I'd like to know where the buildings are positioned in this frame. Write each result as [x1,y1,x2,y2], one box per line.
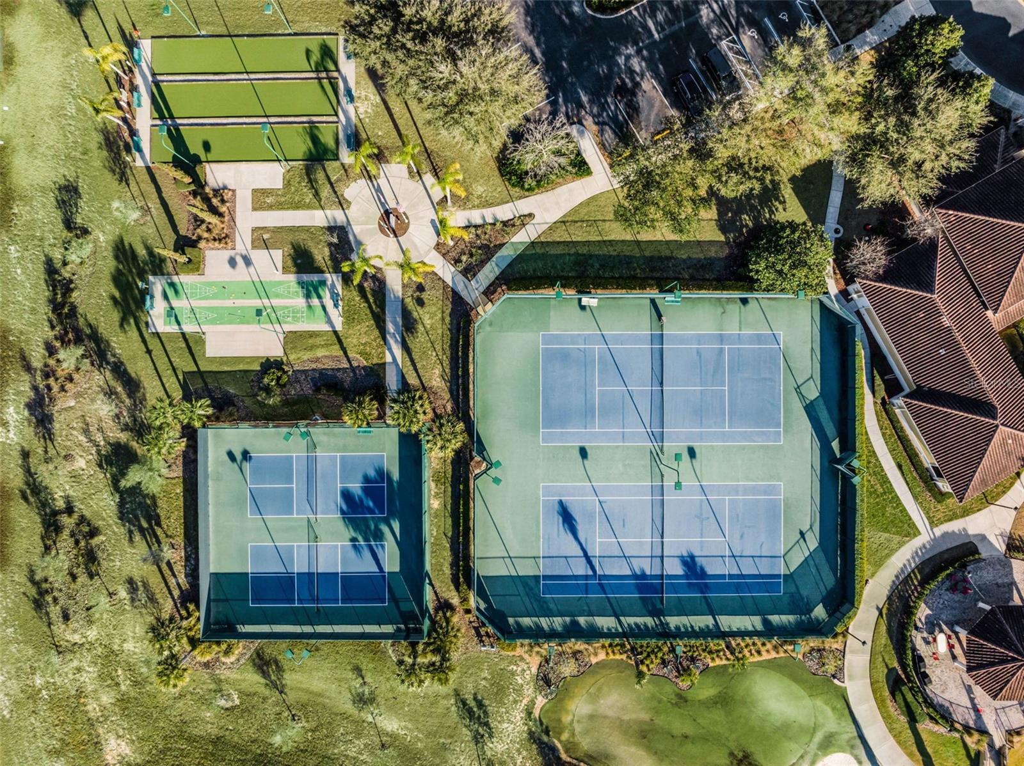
[850,125,1024,503]
[950,598,1024,703]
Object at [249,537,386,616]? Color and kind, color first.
blue sports court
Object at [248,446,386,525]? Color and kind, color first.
blue sports court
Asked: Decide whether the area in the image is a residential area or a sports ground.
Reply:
sports ground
